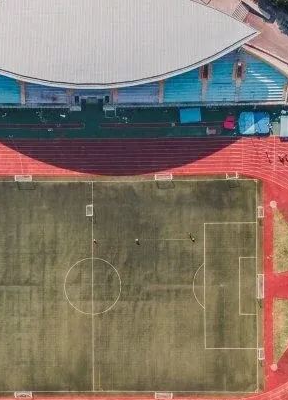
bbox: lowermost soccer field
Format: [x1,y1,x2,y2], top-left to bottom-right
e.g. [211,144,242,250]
[0,175,264,399]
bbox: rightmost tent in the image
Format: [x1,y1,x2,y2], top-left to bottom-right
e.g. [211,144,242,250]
[253,114,269,136]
